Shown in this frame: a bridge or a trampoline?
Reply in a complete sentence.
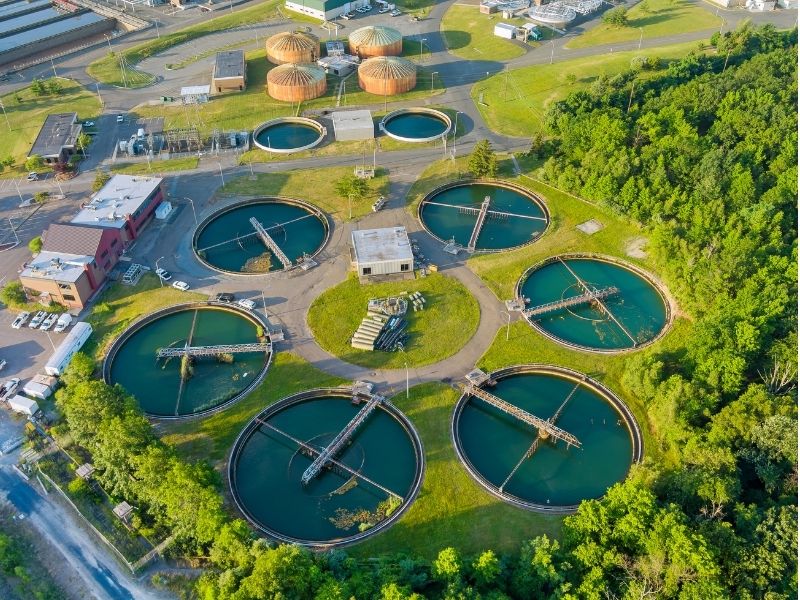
This aerial view contains a bridge.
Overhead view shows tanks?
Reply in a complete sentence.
Yes, the image includes a tank.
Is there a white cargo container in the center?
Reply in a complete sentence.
No, I can find no white cargo container in the center.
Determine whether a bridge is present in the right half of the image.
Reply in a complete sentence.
Yes, you'll find a bridge in the right half of the image.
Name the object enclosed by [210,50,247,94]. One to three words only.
building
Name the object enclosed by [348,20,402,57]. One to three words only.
storage tank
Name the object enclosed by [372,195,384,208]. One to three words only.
vehicle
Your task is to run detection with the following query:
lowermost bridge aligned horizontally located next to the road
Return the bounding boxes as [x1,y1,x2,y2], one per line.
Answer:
[155,343,276,362]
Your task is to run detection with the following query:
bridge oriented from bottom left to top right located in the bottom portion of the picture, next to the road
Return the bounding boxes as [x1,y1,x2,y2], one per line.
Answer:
[300,391,388,488]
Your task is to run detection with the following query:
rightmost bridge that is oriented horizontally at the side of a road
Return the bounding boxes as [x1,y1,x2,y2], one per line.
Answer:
[516,288,623,315]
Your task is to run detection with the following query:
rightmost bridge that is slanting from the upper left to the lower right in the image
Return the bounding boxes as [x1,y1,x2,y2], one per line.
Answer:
[467,377,581,455]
